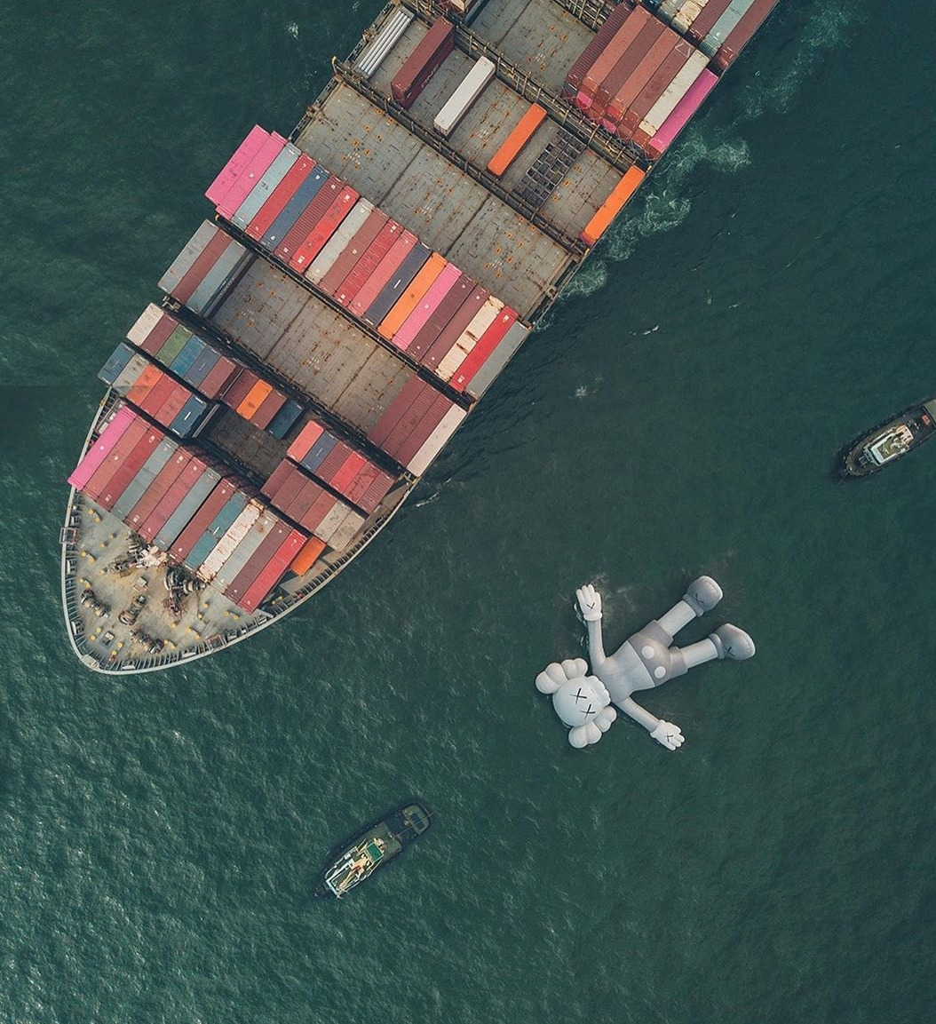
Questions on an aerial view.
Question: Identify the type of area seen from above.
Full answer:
It's a port.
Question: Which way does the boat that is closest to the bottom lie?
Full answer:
What the image shows is the boat that is closest to the bottom lying on a diagonal.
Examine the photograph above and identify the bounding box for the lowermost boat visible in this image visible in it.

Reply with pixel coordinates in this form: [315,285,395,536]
[311,799,436,903]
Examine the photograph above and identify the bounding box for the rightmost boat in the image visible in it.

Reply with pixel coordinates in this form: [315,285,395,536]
[823,385,936,481]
